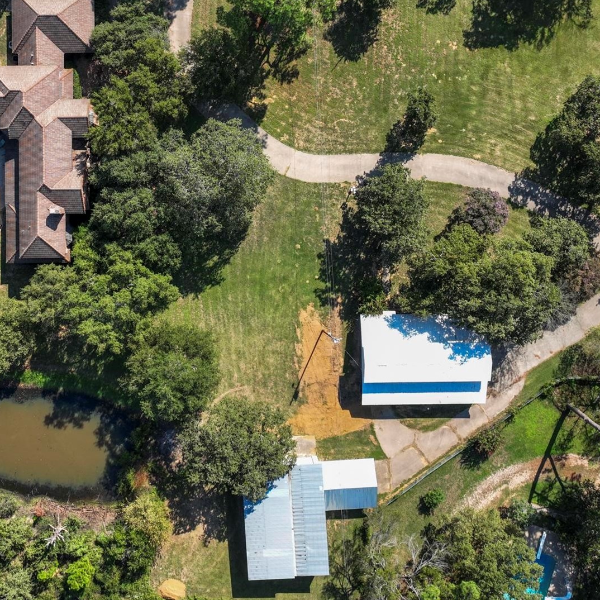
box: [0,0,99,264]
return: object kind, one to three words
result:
house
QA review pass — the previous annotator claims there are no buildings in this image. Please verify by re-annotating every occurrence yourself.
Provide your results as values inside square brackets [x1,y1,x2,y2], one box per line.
[244,450,330,581]
[0,0,99,264]
[360,309,493,406]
